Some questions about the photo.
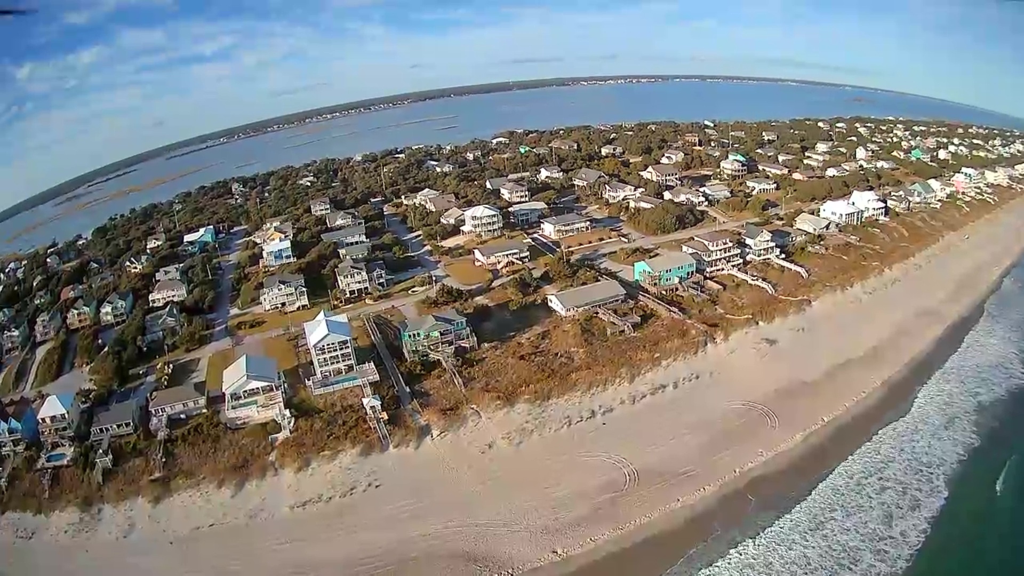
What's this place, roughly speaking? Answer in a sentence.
The area seen from above is a residential area.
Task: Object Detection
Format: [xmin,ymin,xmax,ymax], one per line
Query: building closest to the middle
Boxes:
[476,236,532,272]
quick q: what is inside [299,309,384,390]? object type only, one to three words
house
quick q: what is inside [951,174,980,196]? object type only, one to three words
house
